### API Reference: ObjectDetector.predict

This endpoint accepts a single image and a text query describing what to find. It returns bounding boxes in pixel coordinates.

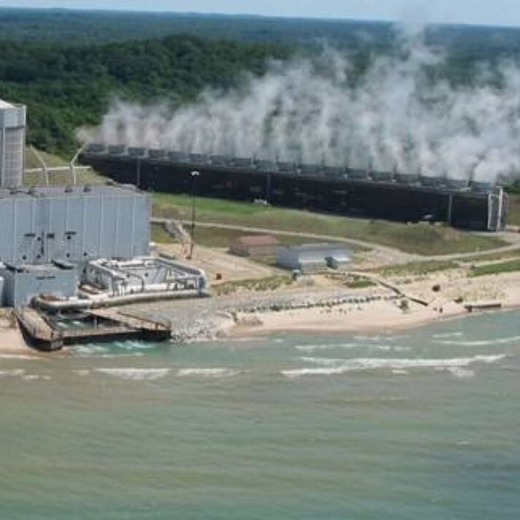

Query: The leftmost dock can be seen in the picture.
[14,307,177,352]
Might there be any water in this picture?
Yes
